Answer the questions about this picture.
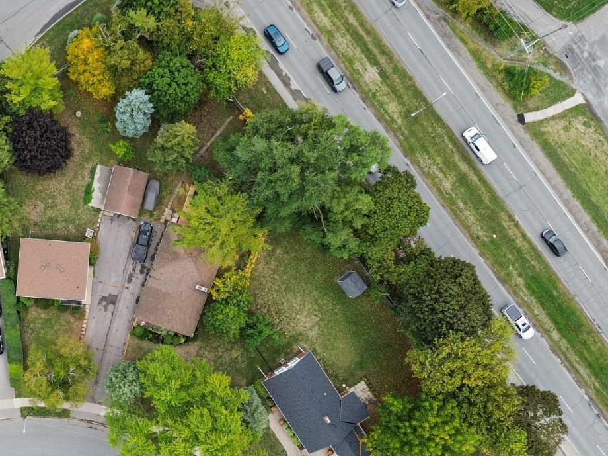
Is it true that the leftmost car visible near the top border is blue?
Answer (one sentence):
Yes, the leftmost car visible near the top border is indeed blue.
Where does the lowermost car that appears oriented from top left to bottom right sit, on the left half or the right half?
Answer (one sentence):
It is on the right.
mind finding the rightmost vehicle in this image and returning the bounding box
[540,229,570,260]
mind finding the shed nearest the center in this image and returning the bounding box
[334,271,367,299]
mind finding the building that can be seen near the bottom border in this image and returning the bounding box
[258,349,372,456]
